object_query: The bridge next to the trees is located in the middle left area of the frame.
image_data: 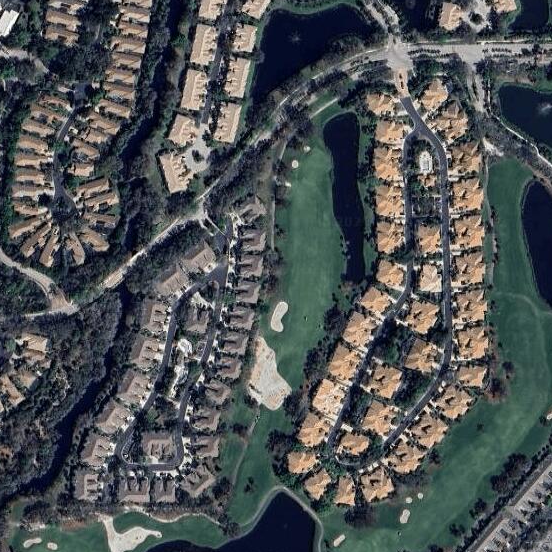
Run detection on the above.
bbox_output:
[97,253,140,293]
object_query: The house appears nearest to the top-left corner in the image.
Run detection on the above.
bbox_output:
[0,10,19,40]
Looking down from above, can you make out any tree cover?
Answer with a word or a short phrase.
Yes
